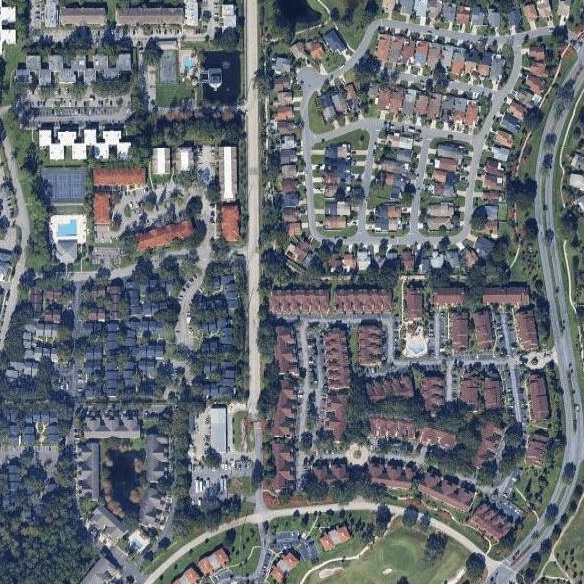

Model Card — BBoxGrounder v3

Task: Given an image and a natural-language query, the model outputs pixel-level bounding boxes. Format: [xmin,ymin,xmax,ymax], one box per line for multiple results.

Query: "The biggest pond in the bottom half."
[104,450,146,517]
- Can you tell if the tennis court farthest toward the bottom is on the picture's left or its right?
left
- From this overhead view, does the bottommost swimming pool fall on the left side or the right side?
left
